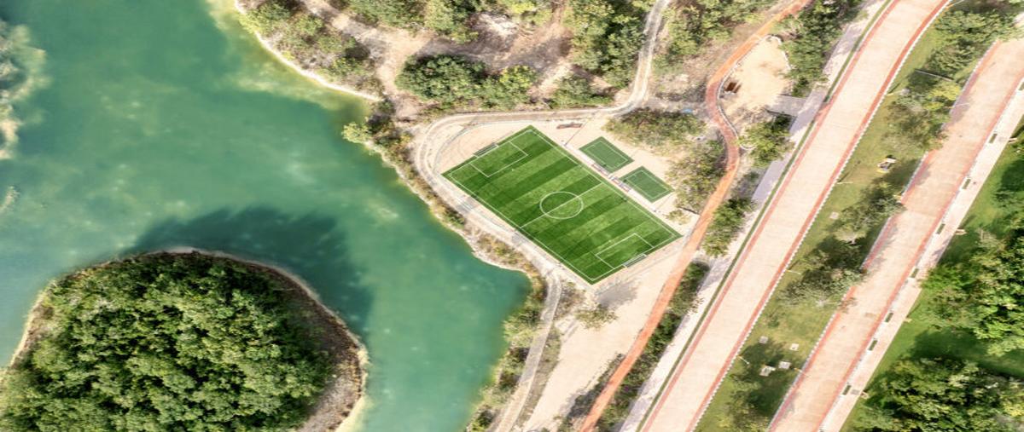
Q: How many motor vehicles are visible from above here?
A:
0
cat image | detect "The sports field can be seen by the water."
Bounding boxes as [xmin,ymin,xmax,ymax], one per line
[443,126,681,283]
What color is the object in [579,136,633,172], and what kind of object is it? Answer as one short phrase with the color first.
green sports court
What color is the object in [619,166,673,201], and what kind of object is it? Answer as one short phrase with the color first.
green sports court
